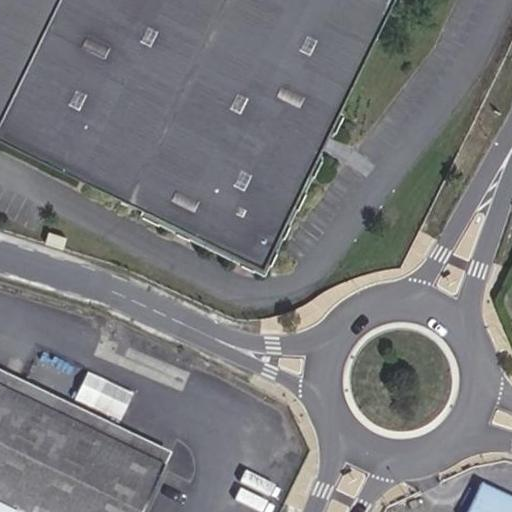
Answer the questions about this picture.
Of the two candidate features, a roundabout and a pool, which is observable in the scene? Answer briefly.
roundabout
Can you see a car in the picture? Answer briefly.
Yes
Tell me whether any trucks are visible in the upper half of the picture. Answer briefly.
No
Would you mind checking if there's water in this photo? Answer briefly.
No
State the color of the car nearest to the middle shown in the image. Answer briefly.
black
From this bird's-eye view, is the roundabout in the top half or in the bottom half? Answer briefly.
bottom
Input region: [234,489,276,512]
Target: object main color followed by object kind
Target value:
white truck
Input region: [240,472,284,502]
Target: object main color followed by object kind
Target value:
white truck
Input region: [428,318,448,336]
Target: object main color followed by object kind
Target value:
white car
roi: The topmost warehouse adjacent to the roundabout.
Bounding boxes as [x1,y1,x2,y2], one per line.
[0,0,398,276]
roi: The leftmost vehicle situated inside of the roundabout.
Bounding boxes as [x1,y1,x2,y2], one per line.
[350,314,370,334]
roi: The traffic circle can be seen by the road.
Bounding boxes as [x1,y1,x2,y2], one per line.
[300,280,504,482]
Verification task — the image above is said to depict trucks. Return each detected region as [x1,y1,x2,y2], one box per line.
[234,489,276,512]
[240,472,284,502]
